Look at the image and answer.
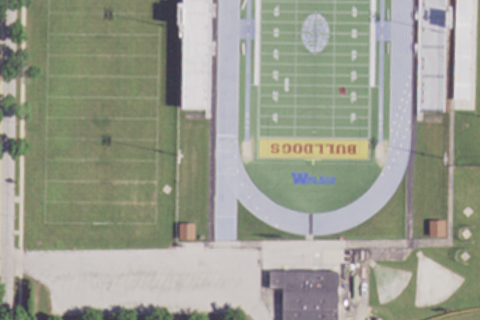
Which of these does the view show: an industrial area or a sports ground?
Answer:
sports ground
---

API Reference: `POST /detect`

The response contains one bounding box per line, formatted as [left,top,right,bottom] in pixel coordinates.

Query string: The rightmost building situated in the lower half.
[430,220,447,238]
